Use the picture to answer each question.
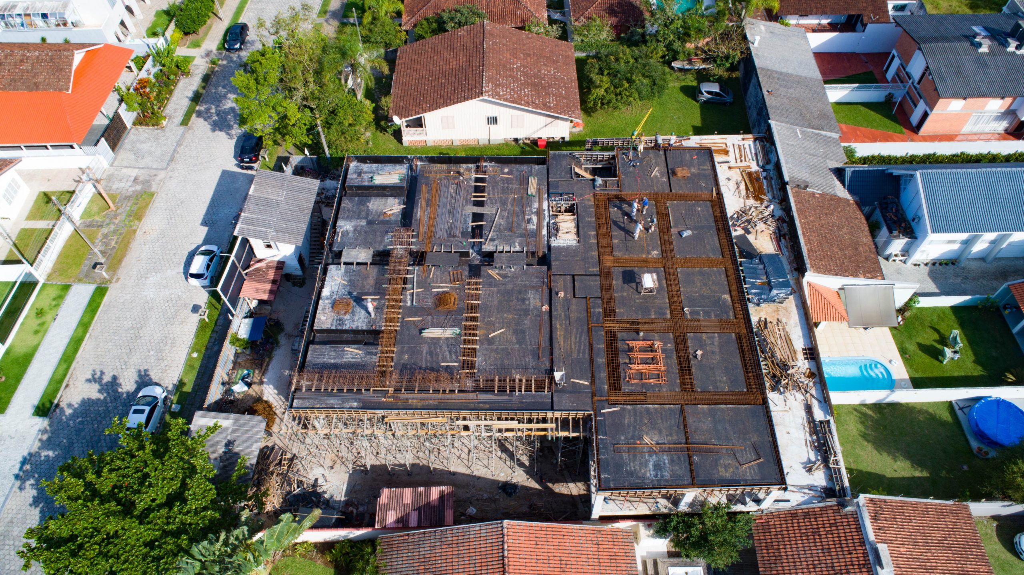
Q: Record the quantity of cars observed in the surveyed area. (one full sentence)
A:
Altogether the scene contains 5 cars.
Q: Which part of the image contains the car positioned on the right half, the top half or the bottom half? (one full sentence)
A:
You can find the car positioned on the right half in the top half.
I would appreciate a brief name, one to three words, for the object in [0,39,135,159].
house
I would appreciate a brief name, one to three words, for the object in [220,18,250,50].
car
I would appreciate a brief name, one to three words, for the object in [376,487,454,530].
shed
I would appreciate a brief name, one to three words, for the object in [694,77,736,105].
car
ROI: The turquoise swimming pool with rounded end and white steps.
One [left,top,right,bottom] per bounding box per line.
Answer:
[819,354,903,390]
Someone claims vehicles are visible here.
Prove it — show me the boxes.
[694,77,736,105]
[220,18,250,50]
[232,125,267,166]
[180,238,223,287]
[115,382,168,450]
